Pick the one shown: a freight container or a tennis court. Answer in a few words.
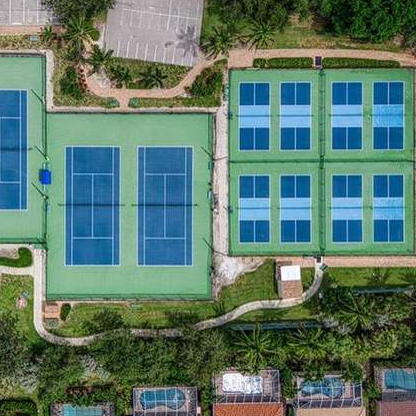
tennis court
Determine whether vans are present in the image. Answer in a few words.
No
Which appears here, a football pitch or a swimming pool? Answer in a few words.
swimming pool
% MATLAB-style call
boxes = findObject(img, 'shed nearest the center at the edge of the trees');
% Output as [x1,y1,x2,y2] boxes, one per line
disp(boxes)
[276,265,302,298]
